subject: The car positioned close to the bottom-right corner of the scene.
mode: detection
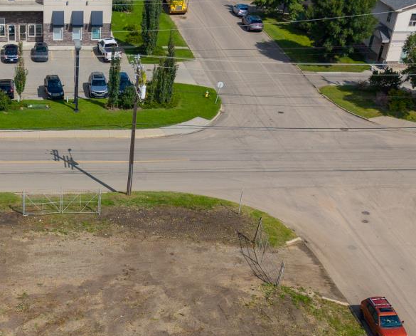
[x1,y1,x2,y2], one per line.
[354,296,407,336]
